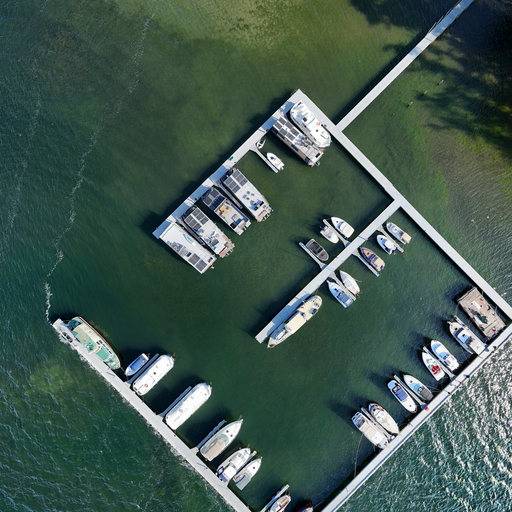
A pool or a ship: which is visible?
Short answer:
ship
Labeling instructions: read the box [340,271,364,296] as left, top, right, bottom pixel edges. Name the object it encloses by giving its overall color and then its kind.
white boat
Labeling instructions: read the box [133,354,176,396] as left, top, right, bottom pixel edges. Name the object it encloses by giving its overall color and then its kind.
white boat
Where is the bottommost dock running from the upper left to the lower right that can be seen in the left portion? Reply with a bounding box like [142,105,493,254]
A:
[52,318,252,512]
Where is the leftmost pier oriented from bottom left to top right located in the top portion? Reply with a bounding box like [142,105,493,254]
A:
[152,88,305,240]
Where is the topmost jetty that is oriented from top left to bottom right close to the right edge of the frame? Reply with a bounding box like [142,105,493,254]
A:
[386,187,512,320]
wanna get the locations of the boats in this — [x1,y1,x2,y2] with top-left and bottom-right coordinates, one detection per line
[432,340,459,371]
[133,354,176,396]
[367,402,400,435]
[387,223,412,244]
[266,494,291,512]
[202,188,250,234]
[340,271,364,296]
[234,458,262,492]
[320,226,338,243]
[125,352,149,375]
[182,206,234,257]
[222,168,273,222]
[292,102,331,148]
[300,504,312,512]
[166,382,212,430]
[326,280,352,308]
[350,408,390,447]
[403,374,434,402]
[330,216,354,239]
[162,224,217,273]
[422,352,444,380]
[271,117,323,167]
[268,153,284,170]
[306,238,328,260]
[447,322,482,356]
[268,296,322,348]
[218,448,249,482]
[377,236,395,256]
[386,380,417,412]
[200,419,244,460]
